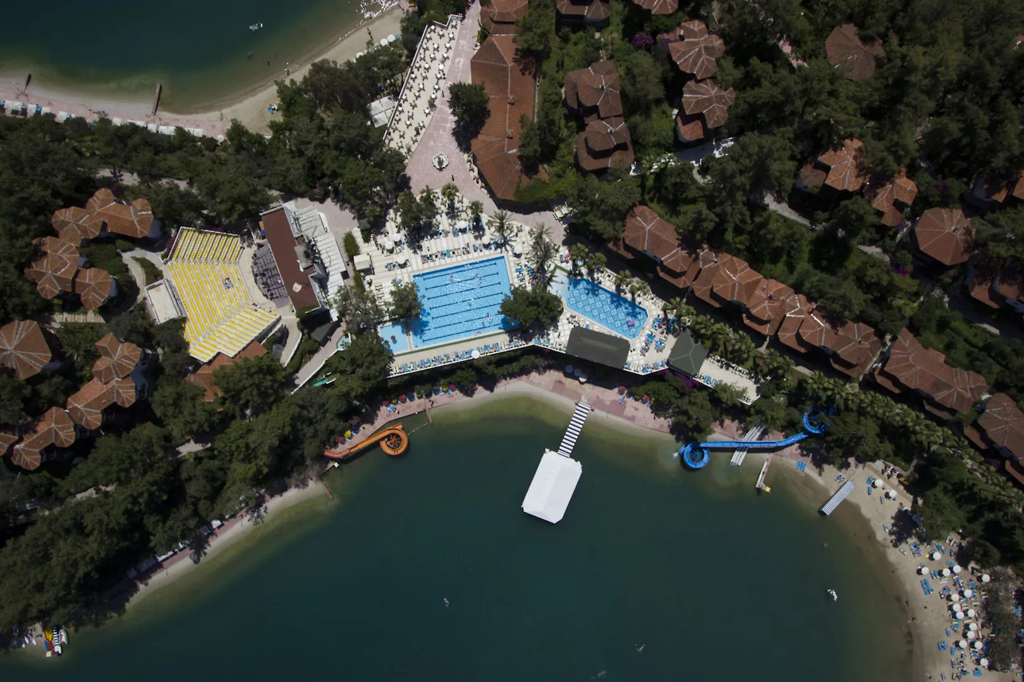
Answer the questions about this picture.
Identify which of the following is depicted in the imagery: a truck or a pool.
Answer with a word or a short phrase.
pool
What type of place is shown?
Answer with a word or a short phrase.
residential area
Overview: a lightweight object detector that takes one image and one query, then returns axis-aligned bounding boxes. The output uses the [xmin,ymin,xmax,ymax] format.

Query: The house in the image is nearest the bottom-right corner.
[953,393,1024,481]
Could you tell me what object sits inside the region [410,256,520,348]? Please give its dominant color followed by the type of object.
blue swimming pool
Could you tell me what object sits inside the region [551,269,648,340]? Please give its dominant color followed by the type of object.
blue swimming pool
